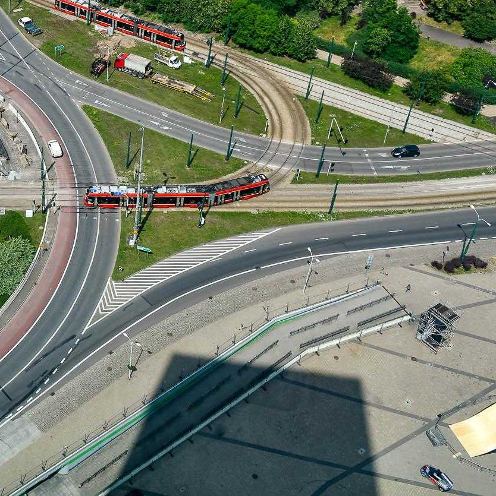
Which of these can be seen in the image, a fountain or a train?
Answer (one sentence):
The one in the frame is a train.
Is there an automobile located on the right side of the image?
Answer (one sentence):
Yes, an automobile can be seen on the right side of the image.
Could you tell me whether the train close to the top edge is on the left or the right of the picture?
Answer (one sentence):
The train close to the top edge appears in the left half of the scene.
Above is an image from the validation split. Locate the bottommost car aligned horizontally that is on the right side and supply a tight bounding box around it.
[394,142,421,156]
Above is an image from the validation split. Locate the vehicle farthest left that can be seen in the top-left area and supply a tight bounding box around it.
[20,14,42,32]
